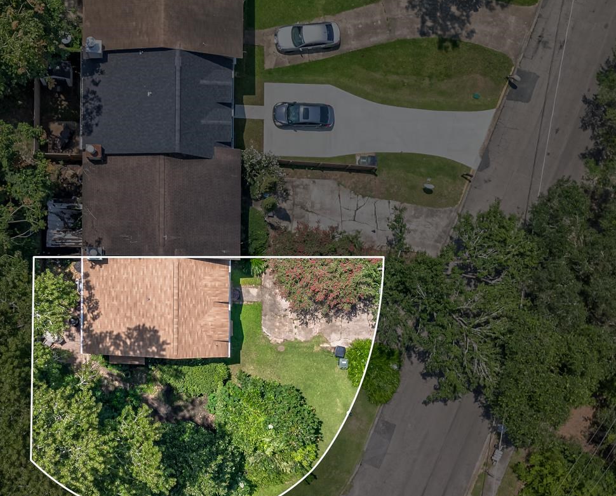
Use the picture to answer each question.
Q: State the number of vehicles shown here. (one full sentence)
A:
The photo contains 2 vehicles.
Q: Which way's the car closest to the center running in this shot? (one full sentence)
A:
The car closest to the center runs horizontally in the image.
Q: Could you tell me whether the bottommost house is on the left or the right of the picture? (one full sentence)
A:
The bottommost house sits on the left side.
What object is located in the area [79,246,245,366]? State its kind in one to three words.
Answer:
house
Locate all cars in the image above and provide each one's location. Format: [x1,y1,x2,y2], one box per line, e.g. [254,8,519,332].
[274,20,342,54]
[273,98,336,130]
